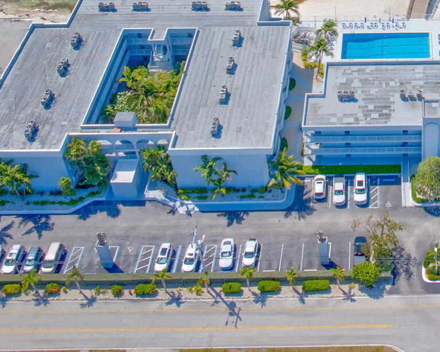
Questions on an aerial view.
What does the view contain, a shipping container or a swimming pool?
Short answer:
swimming pool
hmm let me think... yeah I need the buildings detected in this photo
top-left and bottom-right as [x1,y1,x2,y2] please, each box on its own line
[0,0,305,198]
[301,61,440,166]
